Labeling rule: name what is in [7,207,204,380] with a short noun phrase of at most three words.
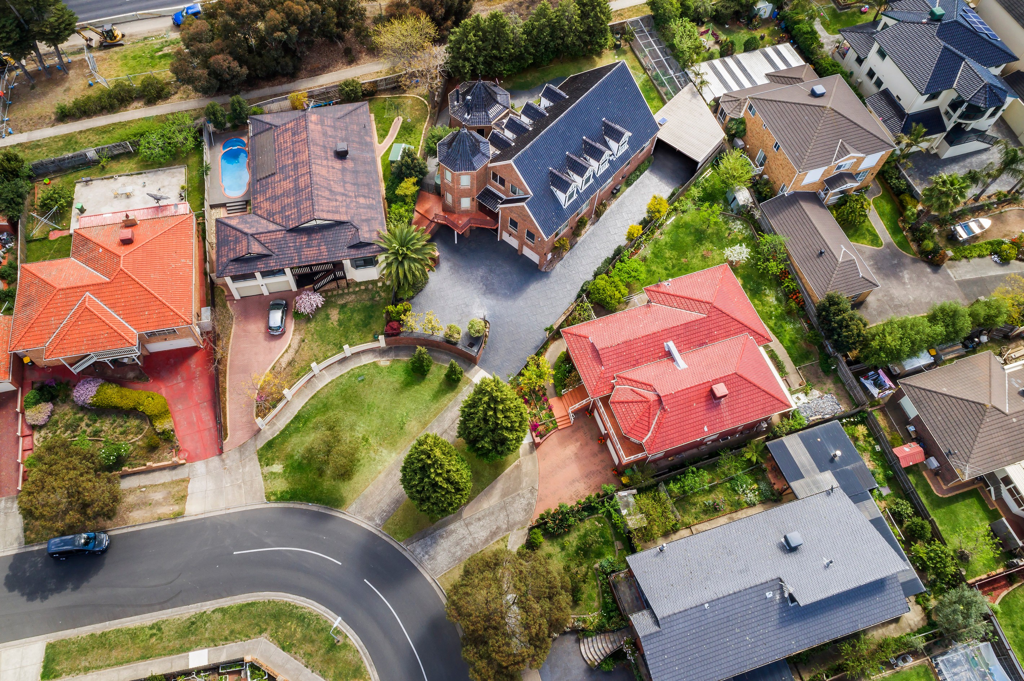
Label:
house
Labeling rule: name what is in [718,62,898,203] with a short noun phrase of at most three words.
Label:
house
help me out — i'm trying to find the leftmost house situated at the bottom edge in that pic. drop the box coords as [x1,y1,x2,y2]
[581,486,922,681]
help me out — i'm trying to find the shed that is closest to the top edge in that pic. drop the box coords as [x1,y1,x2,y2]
[750,1,771,27]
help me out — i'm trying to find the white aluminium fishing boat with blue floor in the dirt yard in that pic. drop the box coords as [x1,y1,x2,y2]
[951,218,994,241]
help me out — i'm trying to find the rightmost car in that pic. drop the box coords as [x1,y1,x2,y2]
[265,297,287,333]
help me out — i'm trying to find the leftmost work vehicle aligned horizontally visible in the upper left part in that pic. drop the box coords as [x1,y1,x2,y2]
[76,26,128,50]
